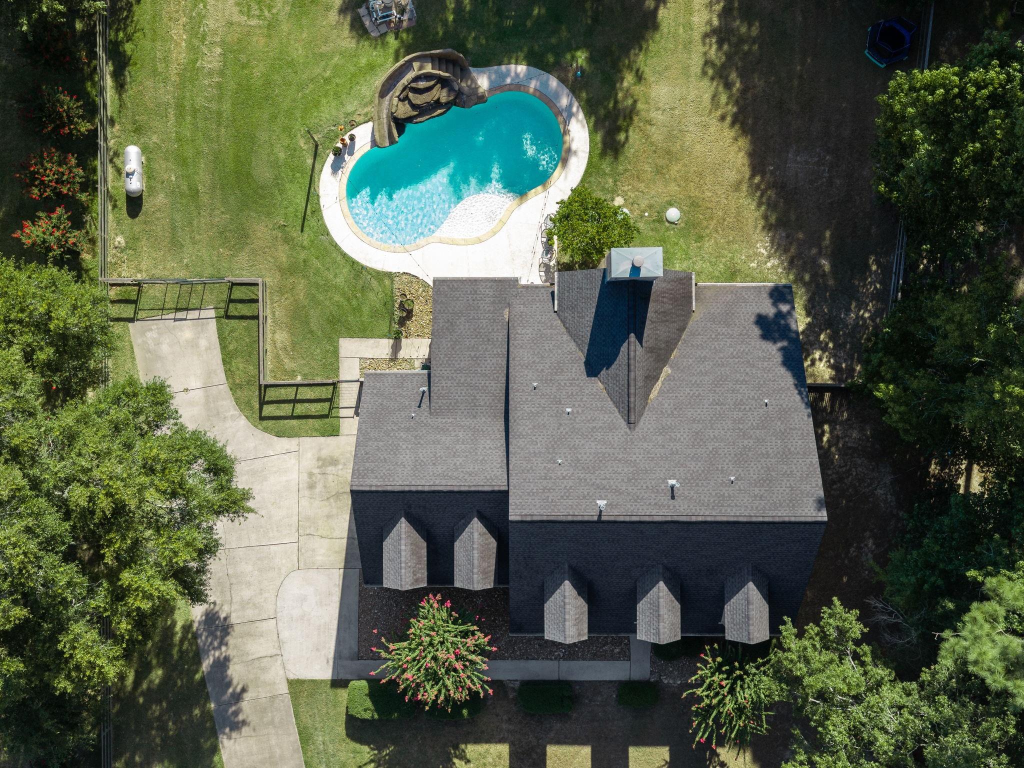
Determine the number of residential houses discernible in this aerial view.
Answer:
1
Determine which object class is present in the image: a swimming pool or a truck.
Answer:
swimming pool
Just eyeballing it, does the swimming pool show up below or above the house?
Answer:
above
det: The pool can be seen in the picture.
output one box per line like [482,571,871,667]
[339,85,570,252]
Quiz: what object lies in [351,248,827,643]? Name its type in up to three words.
house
